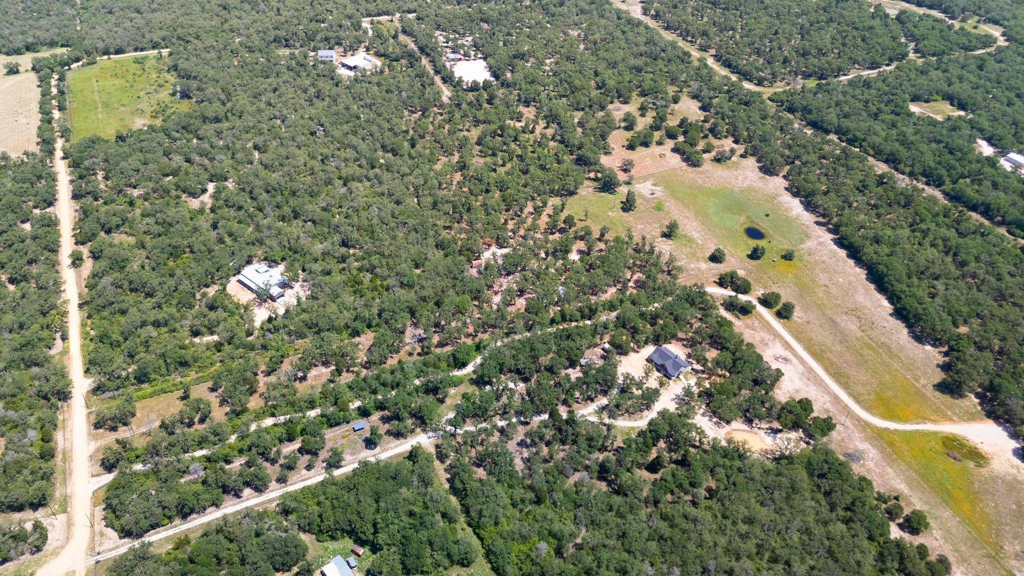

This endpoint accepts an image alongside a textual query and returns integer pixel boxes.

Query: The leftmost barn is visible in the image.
[237,263,293,298]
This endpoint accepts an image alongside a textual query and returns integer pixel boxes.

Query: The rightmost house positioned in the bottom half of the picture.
[647,345,693,381]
